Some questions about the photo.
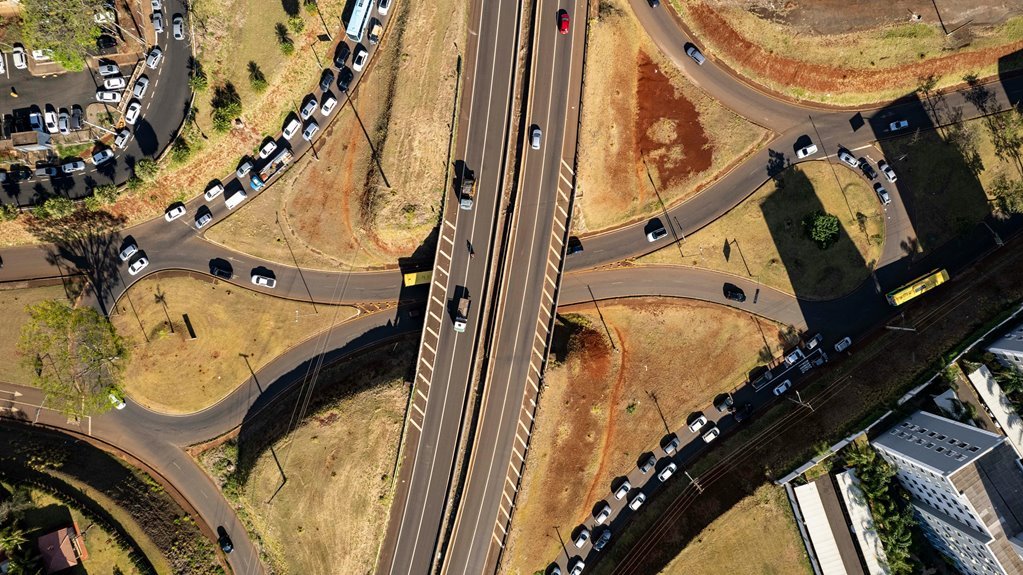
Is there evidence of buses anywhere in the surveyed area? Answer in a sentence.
Yes, the picture does show a bus.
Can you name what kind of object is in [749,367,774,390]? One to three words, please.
truck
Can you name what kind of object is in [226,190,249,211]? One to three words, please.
vehicle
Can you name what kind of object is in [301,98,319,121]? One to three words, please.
car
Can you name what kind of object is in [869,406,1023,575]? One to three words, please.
building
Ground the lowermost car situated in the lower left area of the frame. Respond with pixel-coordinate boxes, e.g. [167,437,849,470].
[220,532,235,554]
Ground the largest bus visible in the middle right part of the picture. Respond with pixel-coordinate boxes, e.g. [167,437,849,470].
[878,268,949,308]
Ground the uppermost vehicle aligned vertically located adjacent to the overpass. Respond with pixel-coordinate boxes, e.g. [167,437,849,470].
[459,172,477,211]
